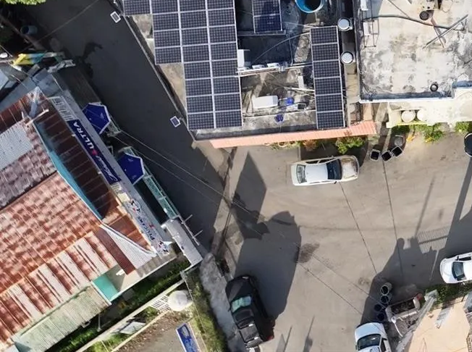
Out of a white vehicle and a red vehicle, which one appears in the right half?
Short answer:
white vehicle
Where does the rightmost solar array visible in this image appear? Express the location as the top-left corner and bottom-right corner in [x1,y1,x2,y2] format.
[310,26,345,130]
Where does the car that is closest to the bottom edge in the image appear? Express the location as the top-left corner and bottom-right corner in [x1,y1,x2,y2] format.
[353,319,385,352]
